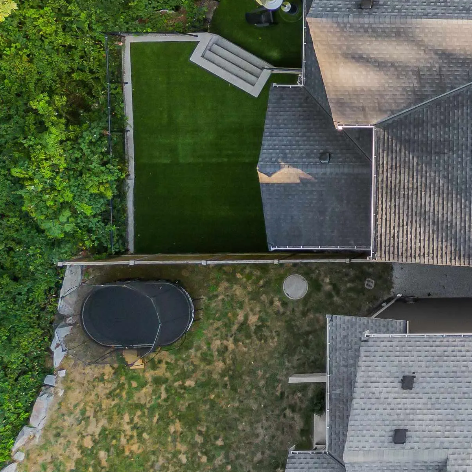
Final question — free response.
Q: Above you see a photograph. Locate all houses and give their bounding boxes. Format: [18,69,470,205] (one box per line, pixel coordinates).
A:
[284,281,472,472]
[256,0,472,266]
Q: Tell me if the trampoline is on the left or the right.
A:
left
